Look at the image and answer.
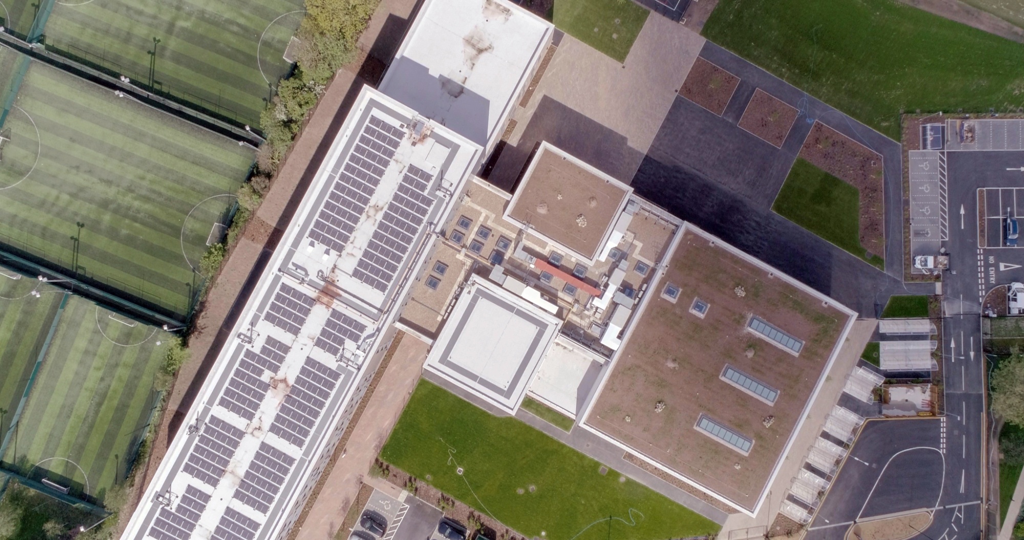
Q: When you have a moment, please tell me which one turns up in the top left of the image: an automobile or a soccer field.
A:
soccer field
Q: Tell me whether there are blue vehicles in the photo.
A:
Yes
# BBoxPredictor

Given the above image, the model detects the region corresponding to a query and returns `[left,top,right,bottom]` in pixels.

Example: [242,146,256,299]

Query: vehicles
[1007,278,1024,312]
[1003,218,1019,246]
[360,515,388,536]
[910,254,950,274]
[438,524,466,540]
[350,532,370,540]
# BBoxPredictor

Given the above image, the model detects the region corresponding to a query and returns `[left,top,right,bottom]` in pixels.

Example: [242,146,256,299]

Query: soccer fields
[2,300,167,512]
[0,58,253,322]
[0,271,63,445]
[45,0,306,135]
[0,44,31,120]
